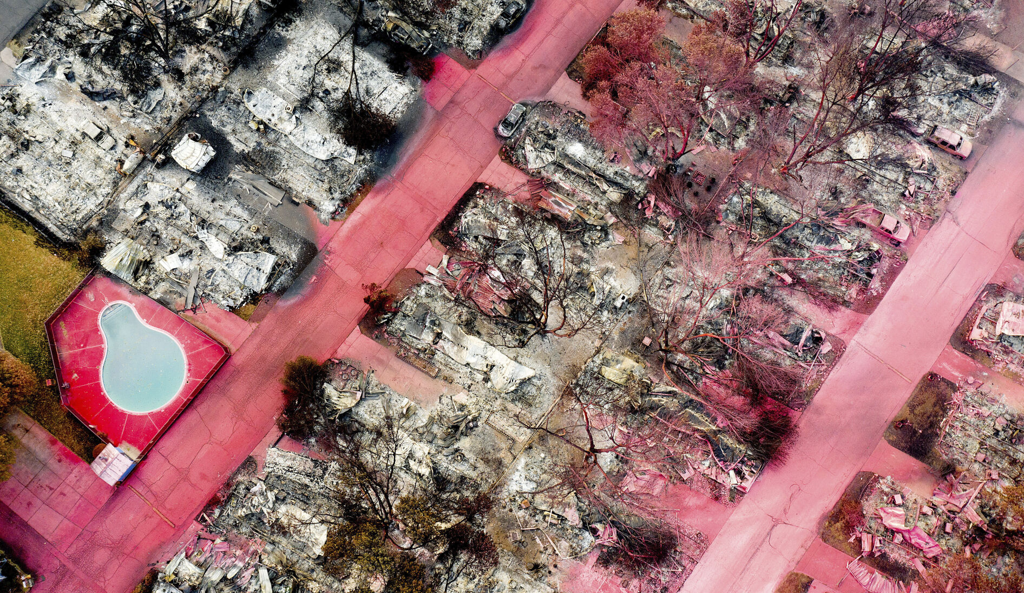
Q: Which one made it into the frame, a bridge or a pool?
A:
pool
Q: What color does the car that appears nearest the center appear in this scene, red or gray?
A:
gray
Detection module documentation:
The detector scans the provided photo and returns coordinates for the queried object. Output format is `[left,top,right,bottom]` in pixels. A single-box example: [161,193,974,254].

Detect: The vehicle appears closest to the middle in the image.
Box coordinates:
[497,100,527,140]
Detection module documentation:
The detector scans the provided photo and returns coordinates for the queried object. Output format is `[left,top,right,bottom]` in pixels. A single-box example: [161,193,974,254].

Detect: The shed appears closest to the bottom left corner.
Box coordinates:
[91,441,145,486]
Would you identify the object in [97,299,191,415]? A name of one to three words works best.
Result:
swimming pool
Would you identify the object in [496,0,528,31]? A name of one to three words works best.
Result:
car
